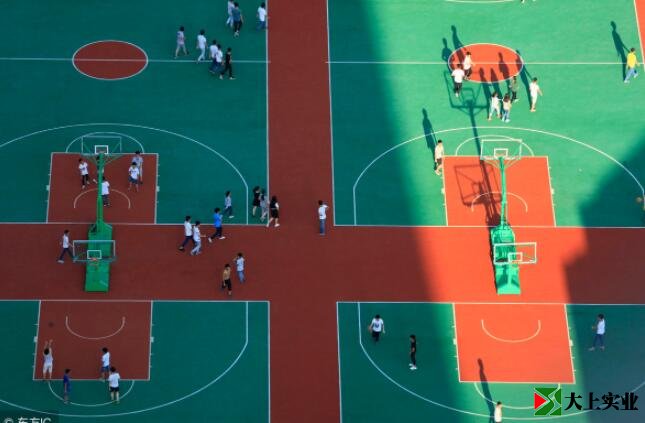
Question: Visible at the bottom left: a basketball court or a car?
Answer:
basketball court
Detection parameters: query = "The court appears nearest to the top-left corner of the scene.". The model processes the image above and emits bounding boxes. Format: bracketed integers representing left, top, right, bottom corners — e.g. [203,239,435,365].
[0,0,270,225]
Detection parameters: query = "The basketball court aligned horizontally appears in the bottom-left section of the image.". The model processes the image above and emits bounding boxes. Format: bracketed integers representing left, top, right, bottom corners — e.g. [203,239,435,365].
[0,300,270,423]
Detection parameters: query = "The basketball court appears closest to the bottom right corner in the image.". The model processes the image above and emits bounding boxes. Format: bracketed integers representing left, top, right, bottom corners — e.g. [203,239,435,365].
[337,302,645,423]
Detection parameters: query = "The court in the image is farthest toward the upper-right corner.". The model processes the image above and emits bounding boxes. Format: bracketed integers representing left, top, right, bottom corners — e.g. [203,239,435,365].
[327,0,645,227]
